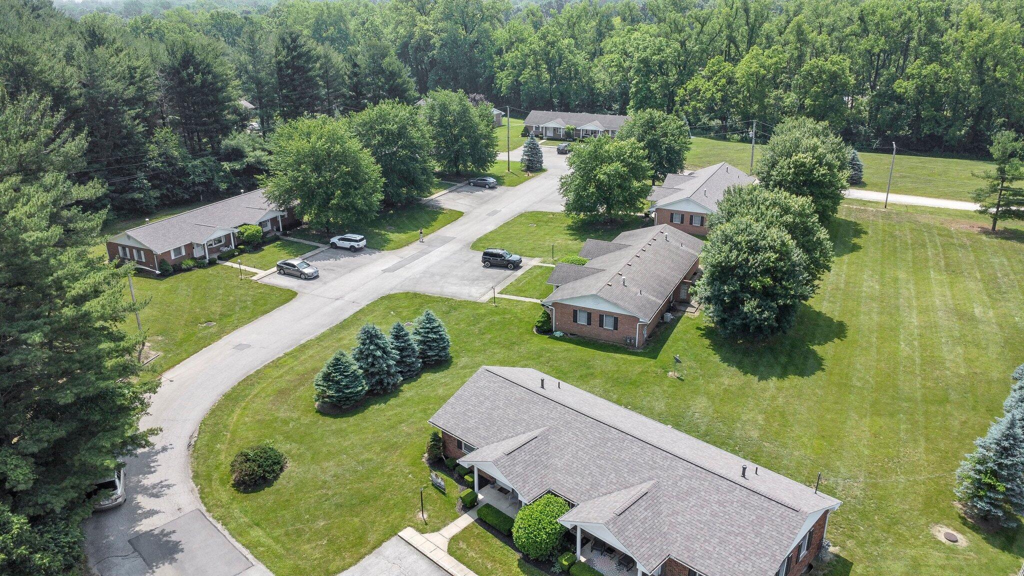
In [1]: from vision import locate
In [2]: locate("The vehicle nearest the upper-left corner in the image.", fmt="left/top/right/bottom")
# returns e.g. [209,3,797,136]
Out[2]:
[275,258,320,279]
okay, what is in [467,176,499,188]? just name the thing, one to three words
vehicle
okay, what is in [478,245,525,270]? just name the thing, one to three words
car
